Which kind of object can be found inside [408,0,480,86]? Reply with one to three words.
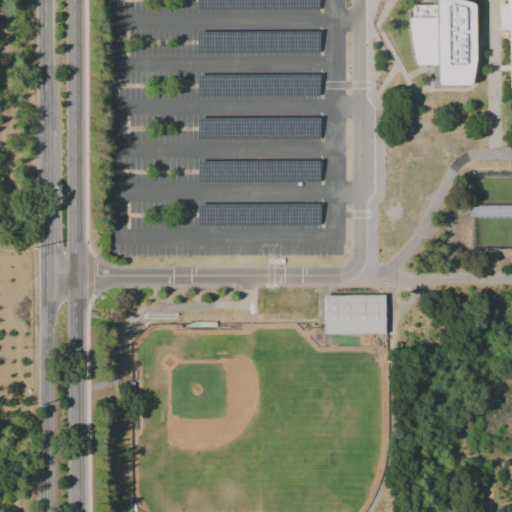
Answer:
building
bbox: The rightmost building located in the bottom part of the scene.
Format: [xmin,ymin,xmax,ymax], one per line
[326,294,387,334]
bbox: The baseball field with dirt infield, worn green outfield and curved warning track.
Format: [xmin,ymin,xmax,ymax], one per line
[134,323,390,512]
